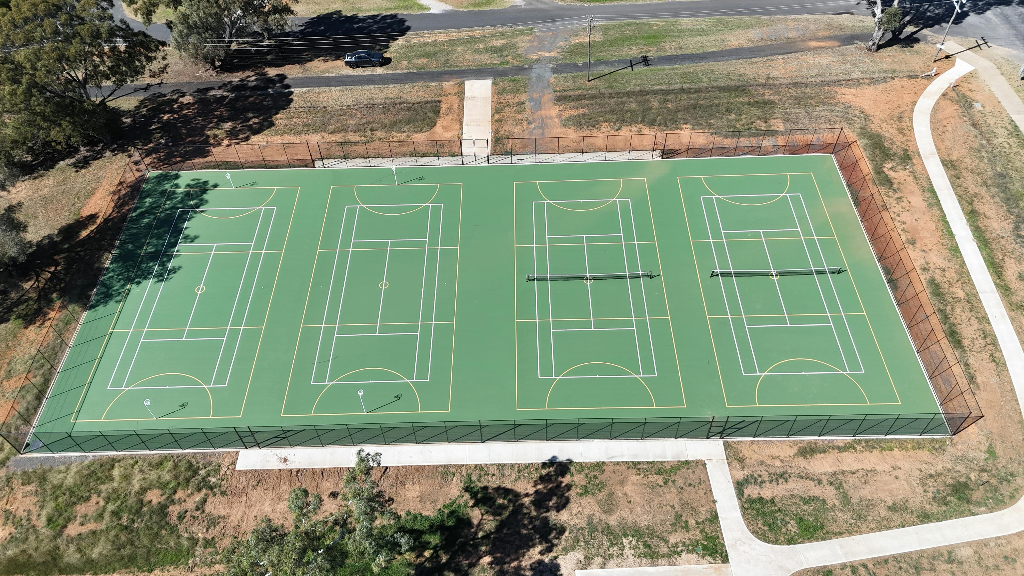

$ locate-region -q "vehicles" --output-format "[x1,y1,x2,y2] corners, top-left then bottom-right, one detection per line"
[344,49,385,69]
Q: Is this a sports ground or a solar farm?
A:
sports ground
